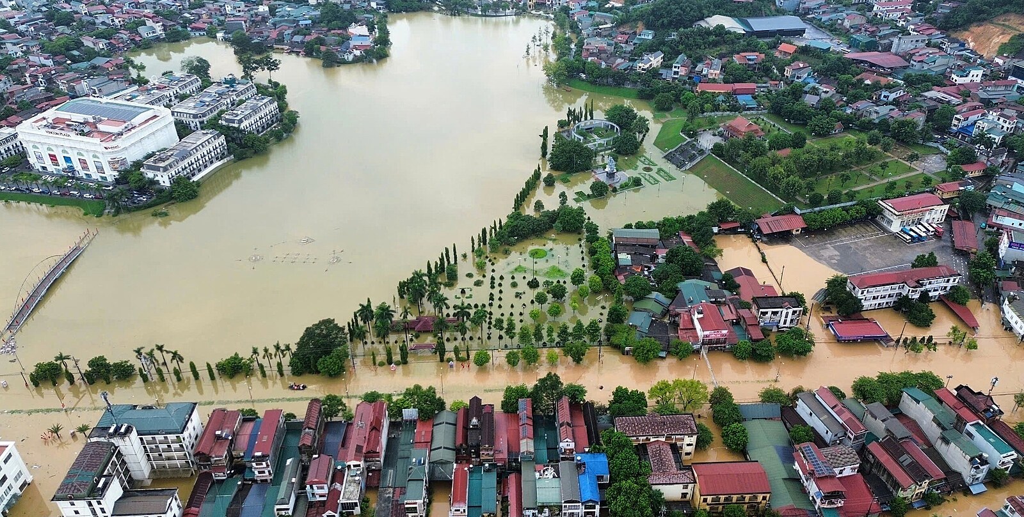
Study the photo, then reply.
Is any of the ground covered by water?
Yes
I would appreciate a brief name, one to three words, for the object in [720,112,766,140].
building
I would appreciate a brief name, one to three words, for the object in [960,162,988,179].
shed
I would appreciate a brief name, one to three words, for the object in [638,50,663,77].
house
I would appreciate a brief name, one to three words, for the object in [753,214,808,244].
shed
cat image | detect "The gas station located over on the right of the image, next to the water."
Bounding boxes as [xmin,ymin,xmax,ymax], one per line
[827,319,890,347]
